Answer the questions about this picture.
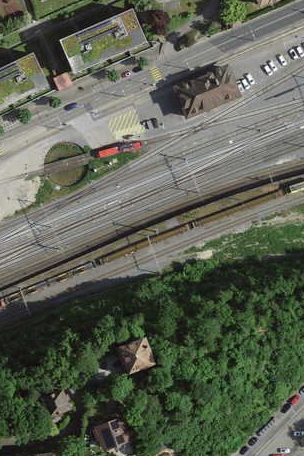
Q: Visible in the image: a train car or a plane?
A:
train car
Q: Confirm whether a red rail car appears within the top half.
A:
Yes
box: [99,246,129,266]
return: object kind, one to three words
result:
rail car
